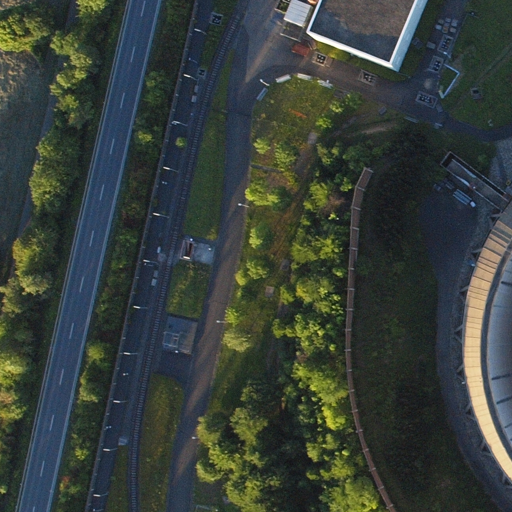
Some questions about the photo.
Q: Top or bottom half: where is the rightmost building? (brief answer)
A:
top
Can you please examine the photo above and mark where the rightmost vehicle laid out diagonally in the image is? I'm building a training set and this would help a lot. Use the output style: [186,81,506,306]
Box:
[449,188,475,209]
